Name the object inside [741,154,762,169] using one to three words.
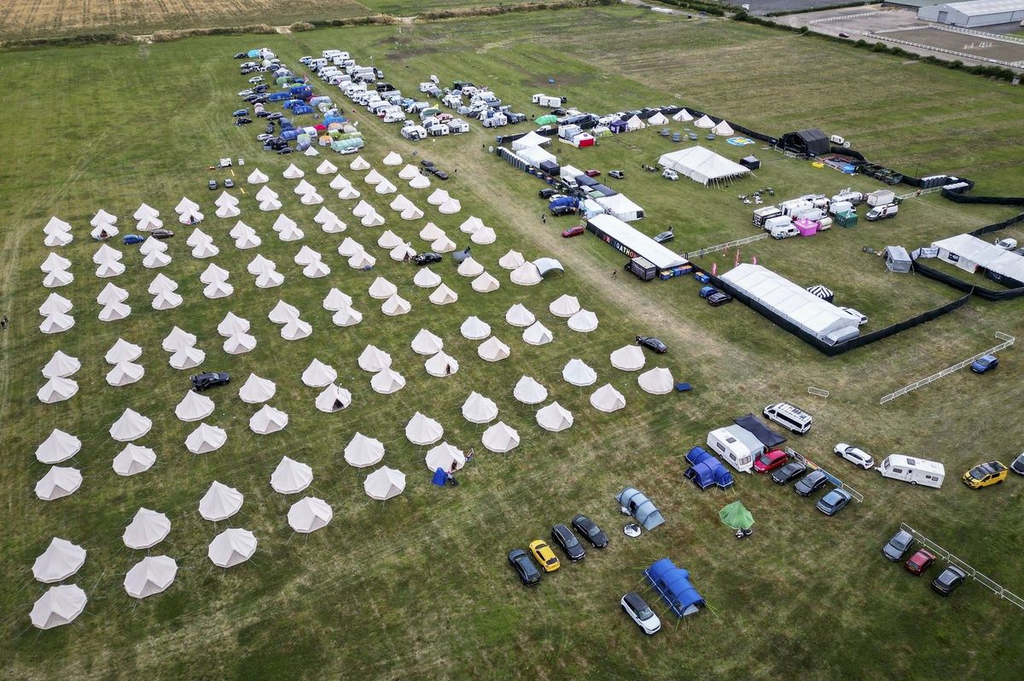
gazebo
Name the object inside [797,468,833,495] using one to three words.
car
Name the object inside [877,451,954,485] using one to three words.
camper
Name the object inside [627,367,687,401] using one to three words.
tent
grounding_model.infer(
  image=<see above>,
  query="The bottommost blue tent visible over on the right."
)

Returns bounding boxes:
[637,557,721,624]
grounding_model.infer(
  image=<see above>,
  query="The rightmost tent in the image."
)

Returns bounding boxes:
[935,235,1024,296]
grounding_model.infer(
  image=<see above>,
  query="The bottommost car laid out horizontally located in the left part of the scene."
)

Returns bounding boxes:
[191,371,227,389]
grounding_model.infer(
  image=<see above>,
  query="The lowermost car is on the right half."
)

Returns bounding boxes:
[623,589,665,630]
